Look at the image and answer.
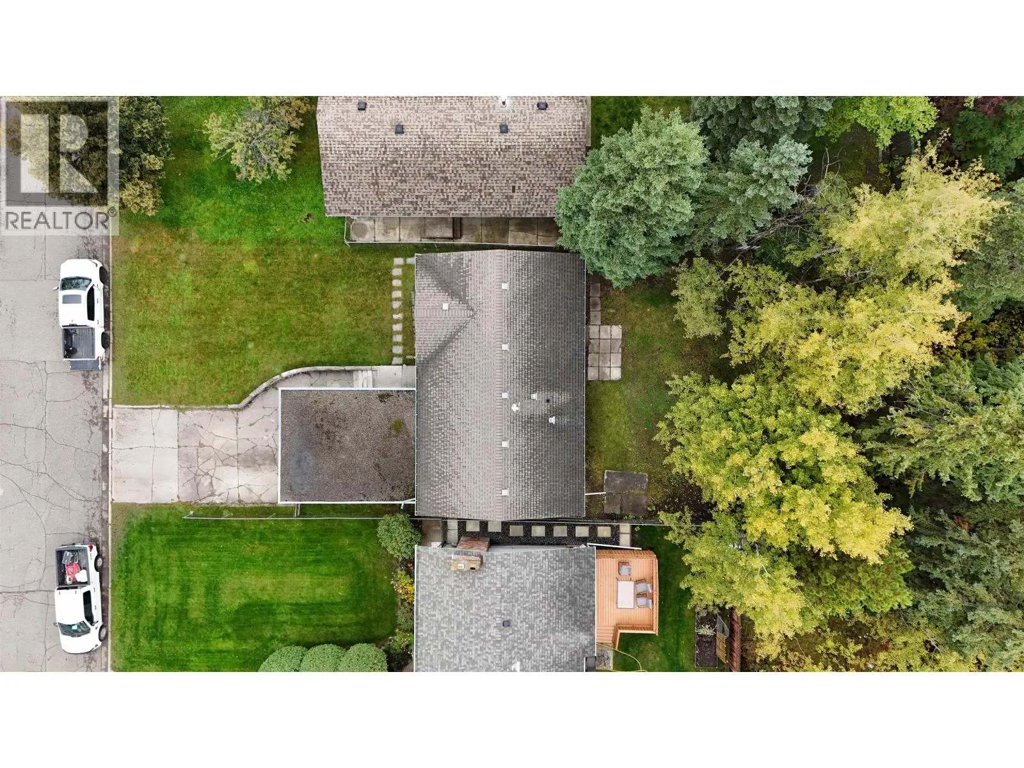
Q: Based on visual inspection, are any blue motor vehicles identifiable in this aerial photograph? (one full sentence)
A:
No, the photo shows no blue motor vehicle.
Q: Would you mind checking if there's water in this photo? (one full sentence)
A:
No, there's no water in this view.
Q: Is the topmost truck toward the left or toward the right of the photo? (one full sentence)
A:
The topmost truck is on the left side of the image.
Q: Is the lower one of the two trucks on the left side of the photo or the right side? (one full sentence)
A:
It is on the left.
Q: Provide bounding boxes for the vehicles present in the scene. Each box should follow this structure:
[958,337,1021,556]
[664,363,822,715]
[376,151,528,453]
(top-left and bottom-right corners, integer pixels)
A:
[55,260,107,369]
[56,541,109,653]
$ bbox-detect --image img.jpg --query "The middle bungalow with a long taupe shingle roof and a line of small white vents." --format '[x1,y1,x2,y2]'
[403,249,604,521]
